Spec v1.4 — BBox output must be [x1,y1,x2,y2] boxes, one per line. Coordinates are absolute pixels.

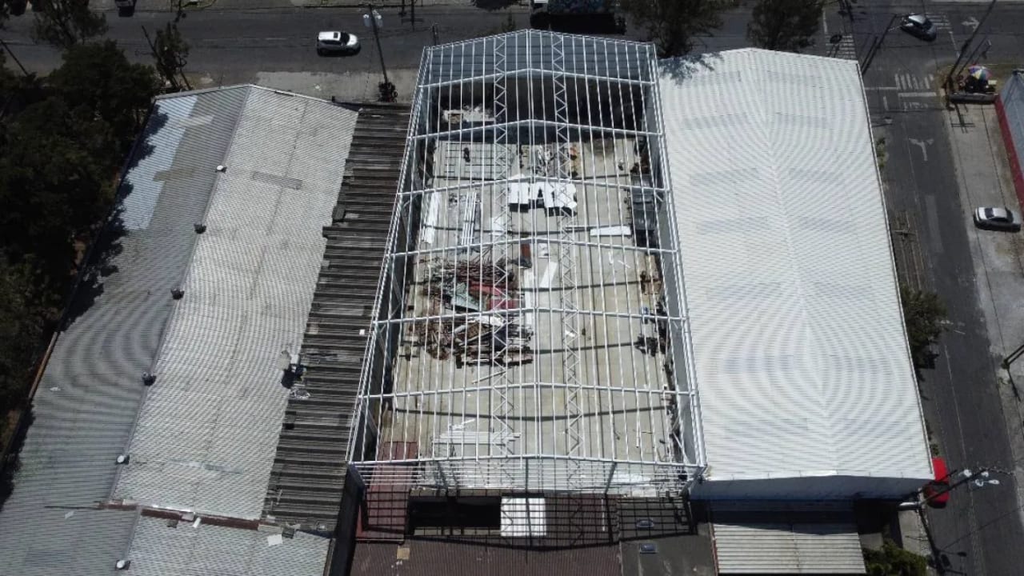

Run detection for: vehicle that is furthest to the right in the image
[974,205,1024,228]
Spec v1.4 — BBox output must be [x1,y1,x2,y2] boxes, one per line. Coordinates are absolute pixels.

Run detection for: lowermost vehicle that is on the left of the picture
[315,29,357,51]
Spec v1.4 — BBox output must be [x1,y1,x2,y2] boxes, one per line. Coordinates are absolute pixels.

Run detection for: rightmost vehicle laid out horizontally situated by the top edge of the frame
[898,12,940,36]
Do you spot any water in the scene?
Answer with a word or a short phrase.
No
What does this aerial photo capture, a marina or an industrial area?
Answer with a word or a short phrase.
industrial area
